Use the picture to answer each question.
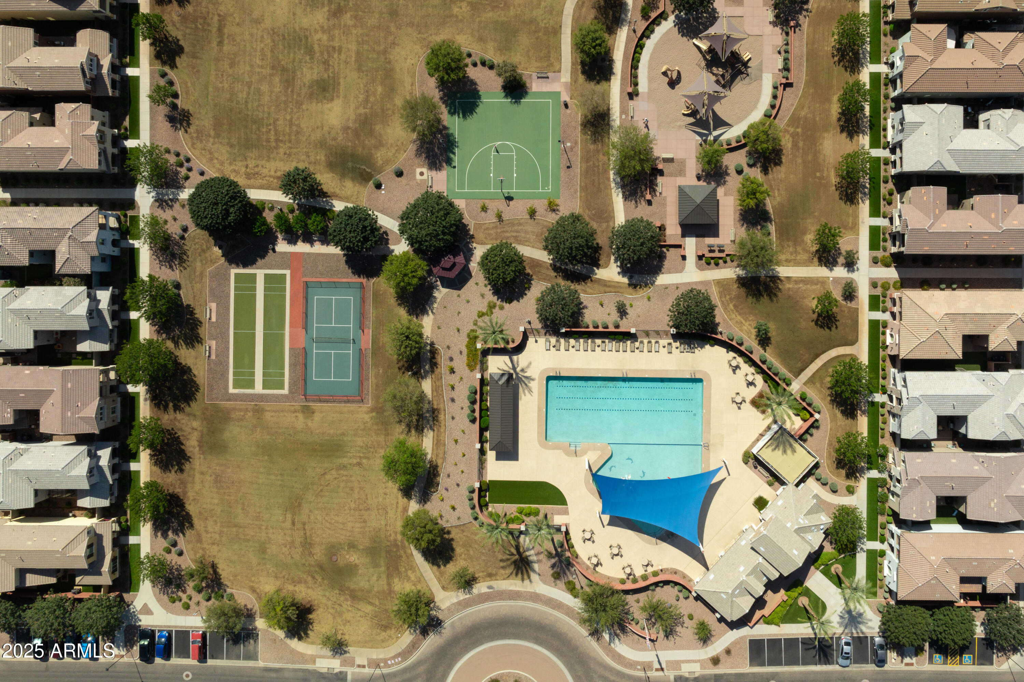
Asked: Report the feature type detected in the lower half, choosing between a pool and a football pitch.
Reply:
pool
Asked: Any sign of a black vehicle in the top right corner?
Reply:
No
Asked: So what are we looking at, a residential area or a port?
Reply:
residential area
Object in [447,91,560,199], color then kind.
green basketball court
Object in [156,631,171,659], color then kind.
blue car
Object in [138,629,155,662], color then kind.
black car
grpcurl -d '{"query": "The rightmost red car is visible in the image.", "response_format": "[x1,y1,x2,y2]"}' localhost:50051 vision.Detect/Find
[190,631,205,661]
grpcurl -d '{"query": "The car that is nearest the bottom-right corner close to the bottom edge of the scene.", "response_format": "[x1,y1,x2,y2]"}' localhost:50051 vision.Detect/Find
[872,635,887,668]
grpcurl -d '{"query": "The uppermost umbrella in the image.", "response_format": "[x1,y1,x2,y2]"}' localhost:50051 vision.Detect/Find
[699,10,749,61]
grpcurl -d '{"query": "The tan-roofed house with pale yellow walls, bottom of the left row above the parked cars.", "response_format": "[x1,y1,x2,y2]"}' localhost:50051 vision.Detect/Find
[0,519,122,594]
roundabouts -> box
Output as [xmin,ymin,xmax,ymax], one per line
[449,640,572,682]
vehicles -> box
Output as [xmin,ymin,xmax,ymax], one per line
[872,635,887,668]
[836,635,852,667]
[190,631,205,661]
[48,632,64,661]
[156,631,171,659]
[80,632,97,660]
[138,629,155,662]
[31,636,48,661]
